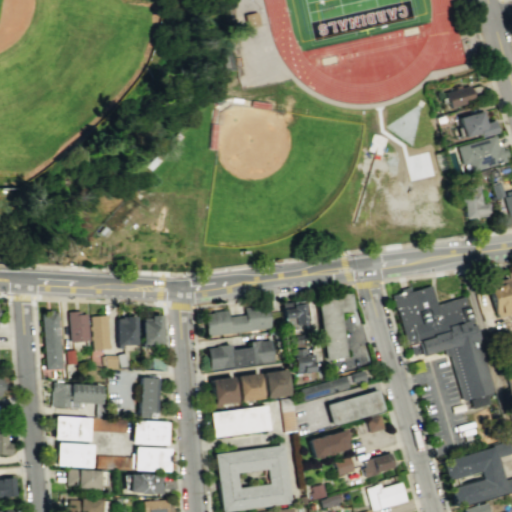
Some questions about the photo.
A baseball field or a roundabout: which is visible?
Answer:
baseball field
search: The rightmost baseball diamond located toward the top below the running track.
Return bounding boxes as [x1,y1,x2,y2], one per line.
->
[206,96,364,247]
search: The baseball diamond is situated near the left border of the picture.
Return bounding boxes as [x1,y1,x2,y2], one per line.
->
[0,0,156,186]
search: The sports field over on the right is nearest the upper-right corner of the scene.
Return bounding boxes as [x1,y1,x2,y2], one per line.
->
[288,0,432,51]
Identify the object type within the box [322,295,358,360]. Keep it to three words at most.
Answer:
building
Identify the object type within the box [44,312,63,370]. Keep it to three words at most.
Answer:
building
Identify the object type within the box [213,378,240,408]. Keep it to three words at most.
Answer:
house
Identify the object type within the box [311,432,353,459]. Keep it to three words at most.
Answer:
house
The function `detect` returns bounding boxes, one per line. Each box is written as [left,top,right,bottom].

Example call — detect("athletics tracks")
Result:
[260,0,469,108]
